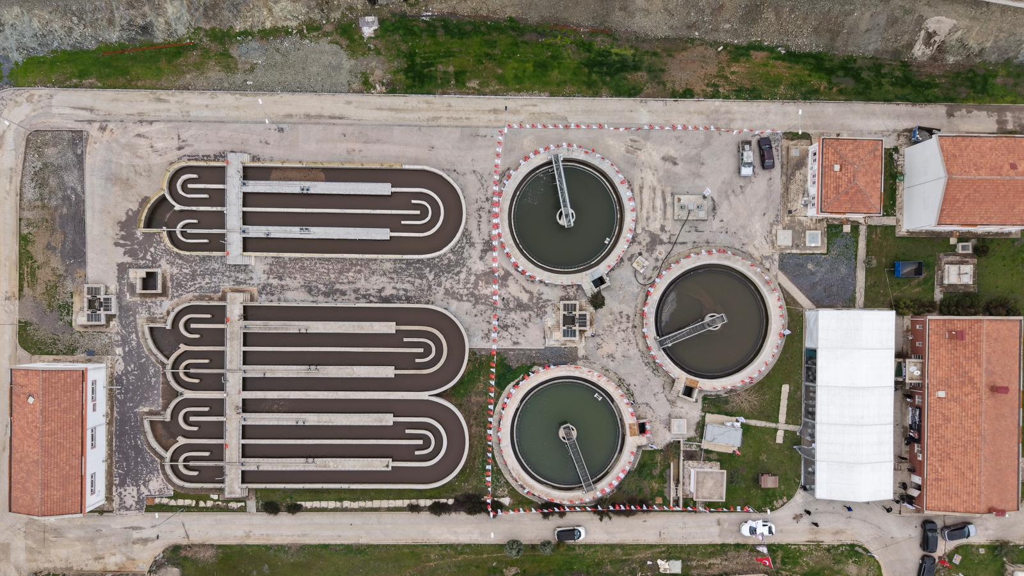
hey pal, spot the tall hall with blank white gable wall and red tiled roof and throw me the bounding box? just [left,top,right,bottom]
[904,134,1024,230]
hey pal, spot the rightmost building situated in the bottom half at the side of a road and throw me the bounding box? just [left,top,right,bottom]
[901,315,1022,517]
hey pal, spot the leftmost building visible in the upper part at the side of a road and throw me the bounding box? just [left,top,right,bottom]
[808,138,884,216]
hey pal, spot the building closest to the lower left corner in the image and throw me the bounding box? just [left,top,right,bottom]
[2,366,109,519]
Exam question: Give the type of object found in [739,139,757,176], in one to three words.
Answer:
vehicle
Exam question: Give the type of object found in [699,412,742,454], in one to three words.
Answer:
shed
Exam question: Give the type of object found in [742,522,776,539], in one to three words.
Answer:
car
